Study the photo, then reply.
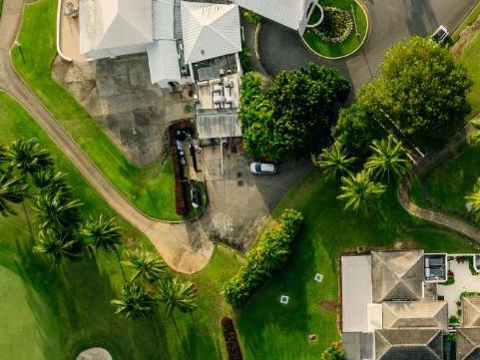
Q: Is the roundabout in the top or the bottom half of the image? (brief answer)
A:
top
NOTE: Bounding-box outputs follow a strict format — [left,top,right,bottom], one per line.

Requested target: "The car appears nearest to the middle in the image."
[251,160,277,174]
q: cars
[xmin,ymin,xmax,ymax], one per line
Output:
[438,24,452,38]
[251,160,277,174]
